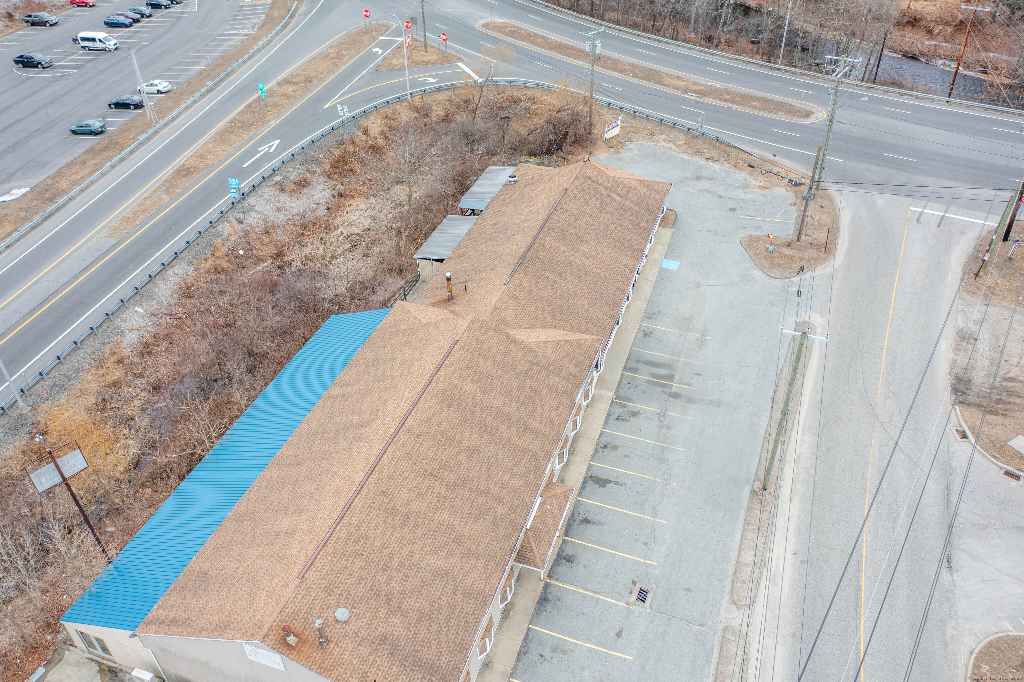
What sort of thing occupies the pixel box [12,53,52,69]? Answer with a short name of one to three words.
vehicle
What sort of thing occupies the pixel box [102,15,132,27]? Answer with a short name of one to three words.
vehicle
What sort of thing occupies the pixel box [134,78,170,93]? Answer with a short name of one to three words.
car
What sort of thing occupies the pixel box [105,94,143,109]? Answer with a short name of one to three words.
car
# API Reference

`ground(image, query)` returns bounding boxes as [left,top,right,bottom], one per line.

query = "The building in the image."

[57,151,674,682]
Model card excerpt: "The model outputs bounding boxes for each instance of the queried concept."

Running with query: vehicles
[70,0,94,7]
[134,78,170,93]
[127,6,152,18]
[68,120,105,135]
[105,94,143,109]
[115,10,142,22]
[21,13,58,26]
[12,53,52,69]
[75,31,118,51]
[70,34,78,44]
[143,0,171,9]
[102,15,132,27]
